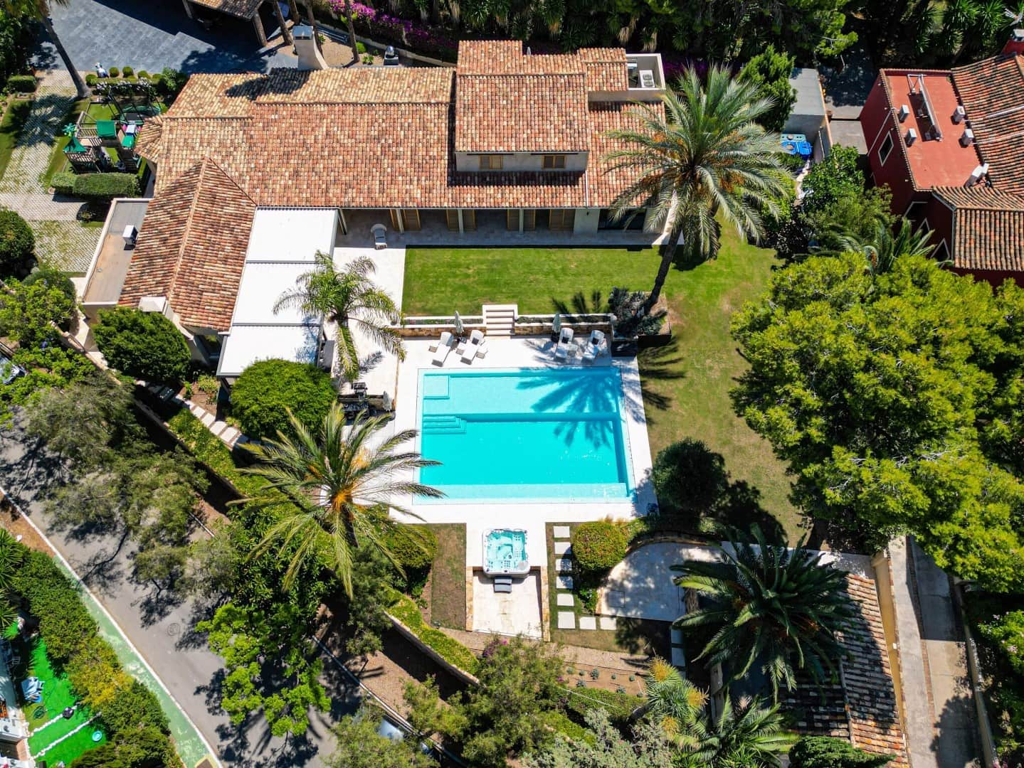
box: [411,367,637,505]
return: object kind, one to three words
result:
swimming pool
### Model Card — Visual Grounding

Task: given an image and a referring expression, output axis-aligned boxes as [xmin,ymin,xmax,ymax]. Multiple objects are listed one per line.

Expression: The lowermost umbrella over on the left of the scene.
[381,392,395,423]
